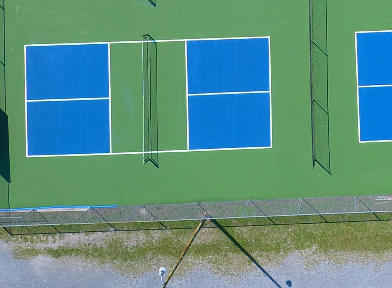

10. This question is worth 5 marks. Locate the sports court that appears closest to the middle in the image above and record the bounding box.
[188,94,271,150]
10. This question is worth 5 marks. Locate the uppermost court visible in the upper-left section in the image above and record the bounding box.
[25,43,109,101]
